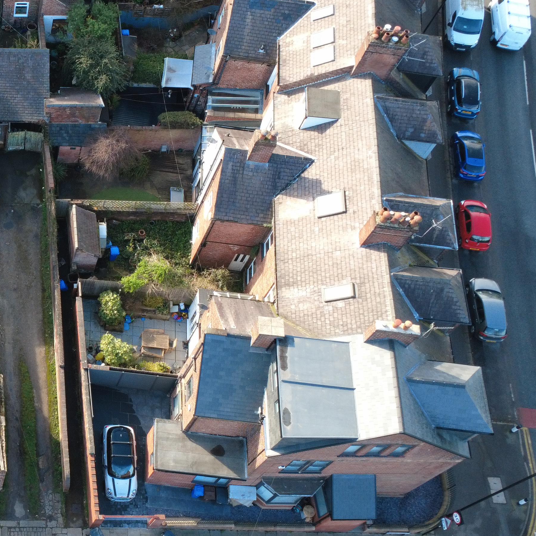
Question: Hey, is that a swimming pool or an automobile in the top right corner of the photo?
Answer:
automobile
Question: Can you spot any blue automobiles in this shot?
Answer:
Yes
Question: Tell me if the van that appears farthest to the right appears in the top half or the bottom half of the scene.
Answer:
top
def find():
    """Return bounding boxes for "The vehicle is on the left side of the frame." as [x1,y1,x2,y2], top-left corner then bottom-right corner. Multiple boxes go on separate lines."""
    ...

[102,426,142,502]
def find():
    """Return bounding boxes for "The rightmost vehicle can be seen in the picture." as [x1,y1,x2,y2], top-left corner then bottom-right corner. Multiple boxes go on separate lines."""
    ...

[490,2,536,51]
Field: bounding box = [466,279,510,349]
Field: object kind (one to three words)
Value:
car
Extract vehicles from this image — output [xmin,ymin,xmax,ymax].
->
[102,426,142,502]
[466,279,510,349]
[447,0,492,49]
[449,131,488,186]
[447,73,483,119]
[490,2,536,51]
[454,199,494,257]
